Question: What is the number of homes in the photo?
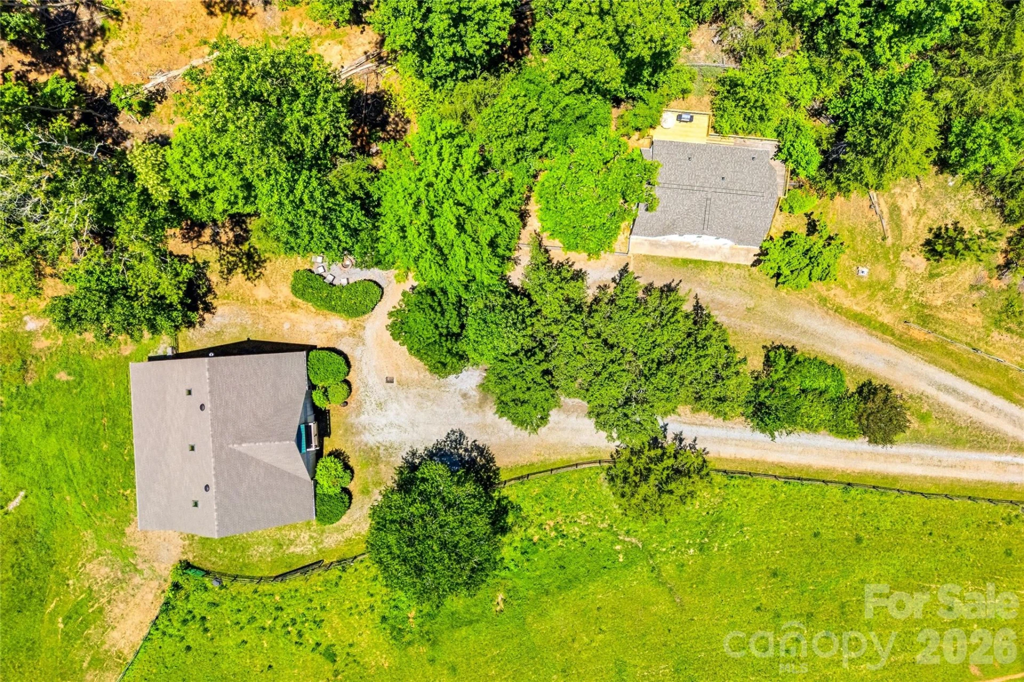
2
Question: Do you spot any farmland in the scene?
Yes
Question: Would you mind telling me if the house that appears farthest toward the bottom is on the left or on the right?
left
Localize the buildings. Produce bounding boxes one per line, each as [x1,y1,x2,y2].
[129,350,330,538]
[631,109,790,248]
